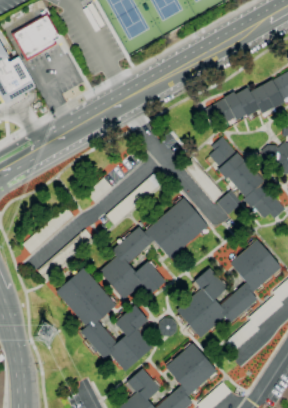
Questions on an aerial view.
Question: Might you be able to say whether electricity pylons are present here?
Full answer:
Yes, there is an electricity pylon in the image.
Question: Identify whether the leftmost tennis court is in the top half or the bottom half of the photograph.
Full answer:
The leftmost tennis court sits in the top half of the picture.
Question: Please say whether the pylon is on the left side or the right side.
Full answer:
The pylon is on the left side of the image.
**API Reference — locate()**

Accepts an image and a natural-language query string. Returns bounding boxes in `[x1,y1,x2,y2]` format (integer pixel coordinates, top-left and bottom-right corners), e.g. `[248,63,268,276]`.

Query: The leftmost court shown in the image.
[108,0,148,40]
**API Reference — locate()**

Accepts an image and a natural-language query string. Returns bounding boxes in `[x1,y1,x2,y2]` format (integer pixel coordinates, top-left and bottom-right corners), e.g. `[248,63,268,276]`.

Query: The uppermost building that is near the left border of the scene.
[12,12,58,60]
